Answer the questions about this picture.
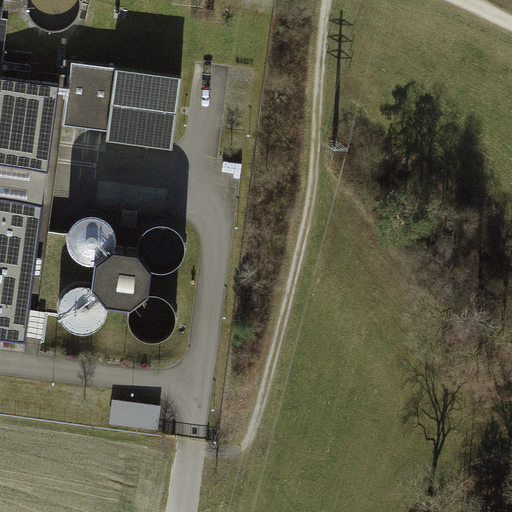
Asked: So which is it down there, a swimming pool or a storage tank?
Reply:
storage tank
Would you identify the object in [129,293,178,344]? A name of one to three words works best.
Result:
storage tank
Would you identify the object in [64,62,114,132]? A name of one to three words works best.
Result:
building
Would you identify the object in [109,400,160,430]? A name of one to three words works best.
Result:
shed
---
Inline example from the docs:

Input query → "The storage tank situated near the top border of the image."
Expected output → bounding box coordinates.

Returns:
[21,0,82,32]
